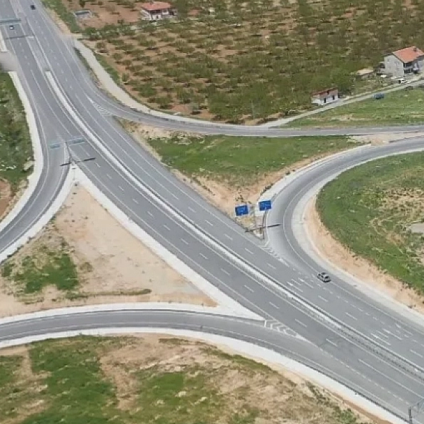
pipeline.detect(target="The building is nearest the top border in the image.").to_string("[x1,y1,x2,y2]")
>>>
[137,1,177,20]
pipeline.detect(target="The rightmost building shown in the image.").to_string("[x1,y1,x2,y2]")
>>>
[388,48,424,78]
